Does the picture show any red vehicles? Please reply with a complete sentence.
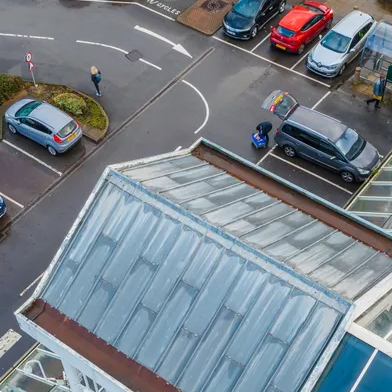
Yes, a red vehicle appears in the view.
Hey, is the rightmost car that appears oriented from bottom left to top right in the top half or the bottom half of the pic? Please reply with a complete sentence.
The rightmost car that appears oriented from bottom left to top right sits in the top half of the picture.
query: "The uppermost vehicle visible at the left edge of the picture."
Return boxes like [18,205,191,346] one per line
[2,97,84,156]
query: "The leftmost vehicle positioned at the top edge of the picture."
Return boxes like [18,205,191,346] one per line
[222,0,289,39]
